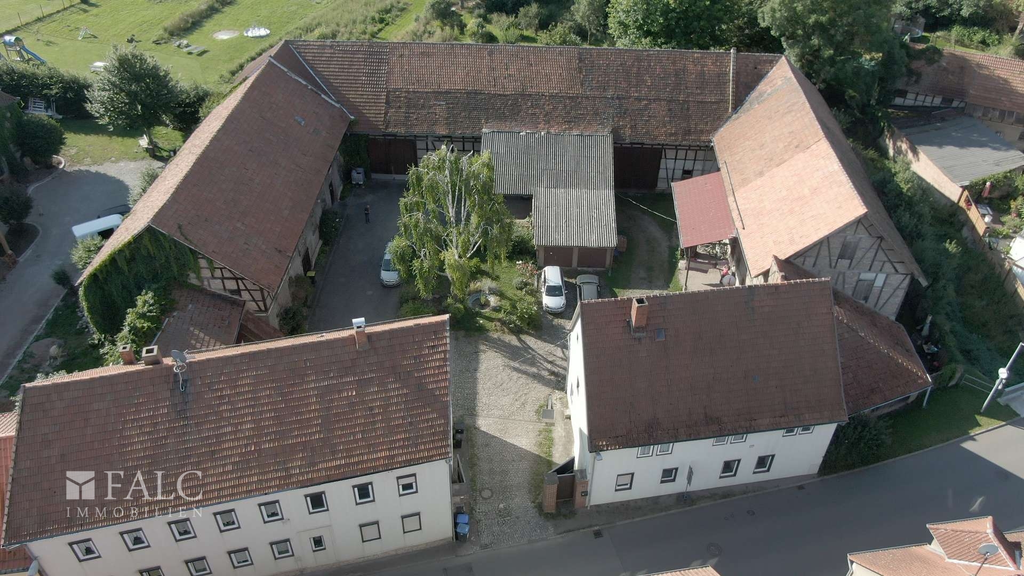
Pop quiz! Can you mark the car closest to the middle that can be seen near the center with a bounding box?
[541,266,569,310]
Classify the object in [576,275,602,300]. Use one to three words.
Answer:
car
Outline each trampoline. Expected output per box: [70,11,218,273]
[242,26,270,38]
